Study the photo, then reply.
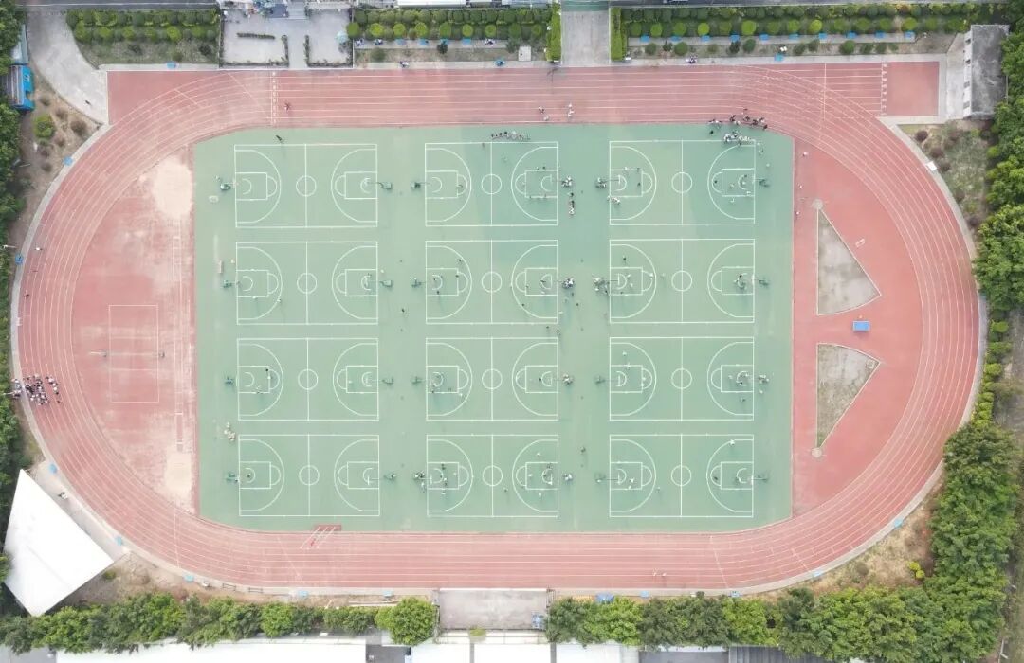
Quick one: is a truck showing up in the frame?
No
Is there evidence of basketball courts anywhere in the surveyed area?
Yes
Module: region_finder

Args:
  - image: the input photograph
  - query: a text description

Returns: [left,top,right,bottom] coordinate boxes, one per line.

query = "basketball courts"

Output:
[425,239,558,324]
[426,338,558,421]
[236,240,378,324]
[237,338,379,421]
[425,141,558,226]
[234,143,378,227]
[609,239,755,323]
[609,434,754,517]
[609,337,754,421]
[427,434,558,517]
[238,435,380,516]
[610,139,755,225]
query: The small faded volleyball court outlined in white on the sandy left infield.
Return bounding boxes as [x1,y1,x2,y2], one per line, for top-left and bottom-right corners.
[109,305,159,402]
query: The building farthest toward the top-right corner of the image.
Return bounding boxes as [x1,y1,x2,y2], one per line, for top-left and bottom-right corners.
[964,23,1010,116]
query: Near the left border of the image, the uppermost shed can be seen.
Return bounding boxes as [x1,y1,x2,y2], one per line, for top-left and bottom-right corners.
[12,24,36,66]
